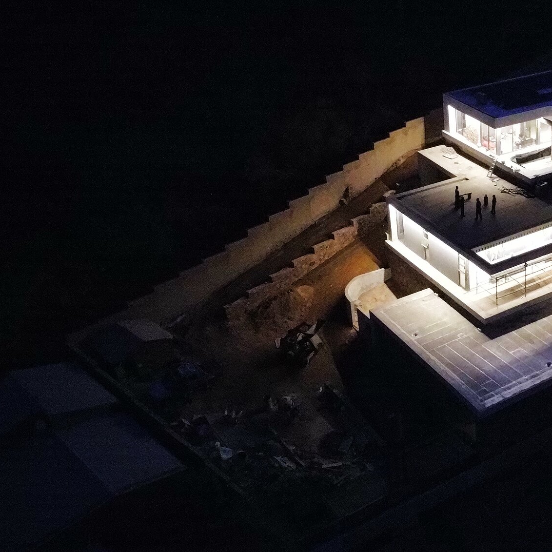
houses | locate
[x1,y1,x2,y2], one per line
[370,70,552,453]
[11,410,191,552]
